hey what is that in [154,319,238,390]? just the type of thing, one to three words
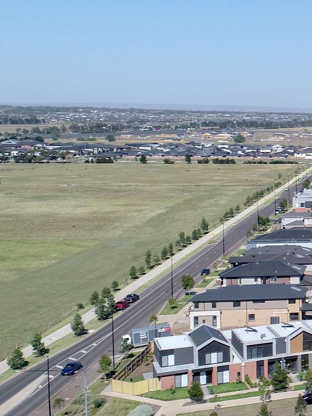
house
